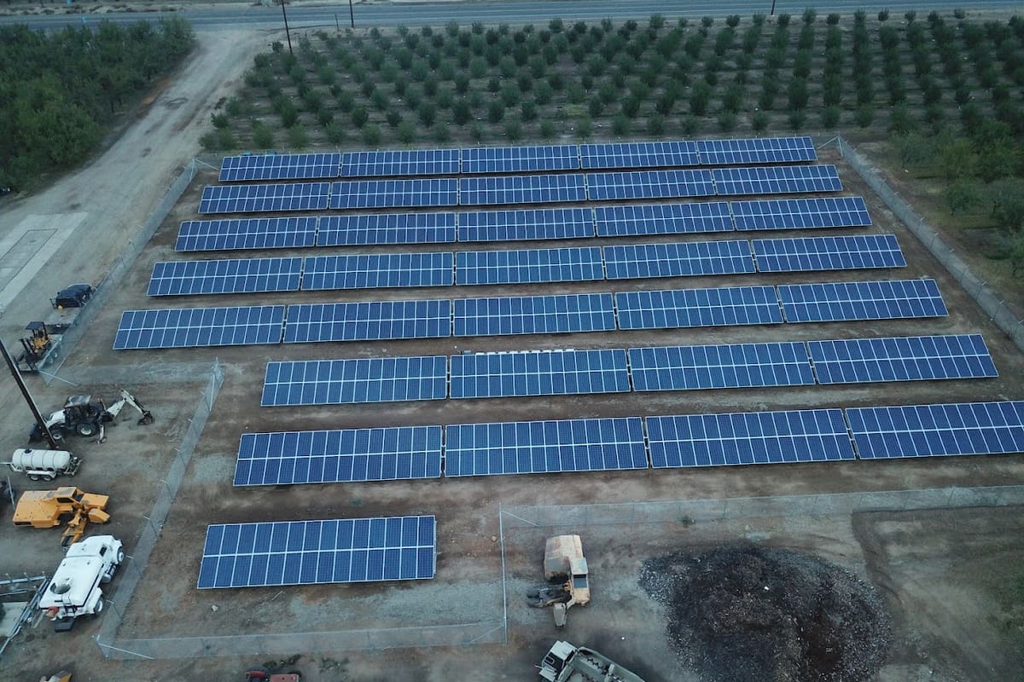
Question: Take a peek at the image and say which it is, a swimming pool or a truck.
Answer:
truck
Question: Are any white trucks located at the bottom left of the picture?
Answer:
Yes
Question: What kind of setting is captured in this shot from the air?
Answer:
solar farm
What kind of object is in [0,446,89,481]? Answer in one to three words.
trailer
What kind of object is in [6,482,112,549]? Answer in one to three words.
work vehicle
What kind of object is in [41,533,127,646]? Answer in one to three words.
truck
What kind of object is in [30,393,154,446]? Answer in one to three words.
work vehicle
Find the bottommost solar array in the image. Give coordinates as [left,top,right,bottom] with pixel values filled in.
[197,515,436,589]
